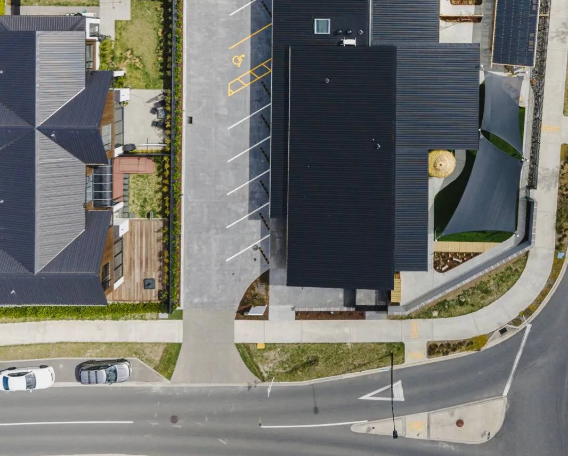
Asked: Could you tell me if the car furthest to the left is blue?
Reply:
No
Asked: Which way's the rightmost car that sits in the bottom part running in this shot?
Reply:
horizontally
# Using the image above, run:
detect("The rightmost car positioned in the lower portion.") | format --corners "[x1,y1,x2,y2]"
[76,357,135,388]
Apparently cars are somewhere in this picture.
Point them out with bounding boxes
[76,357,135,388]
[0,362,54,394]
